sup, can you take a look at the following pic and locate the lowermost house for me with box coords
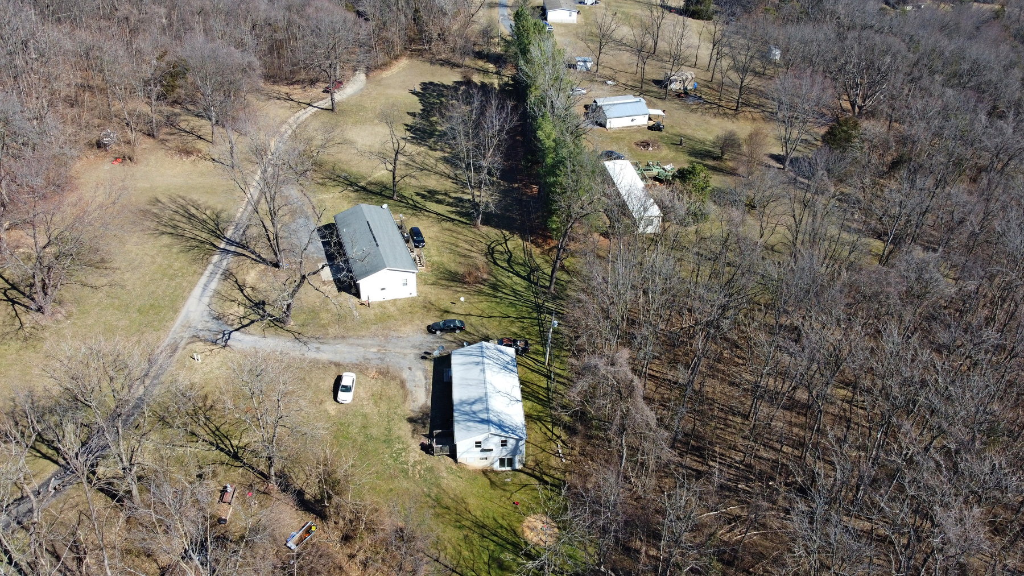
[452,343,528,467]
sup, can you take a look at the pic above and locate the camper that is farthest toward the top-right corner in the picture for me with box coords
[670,74,694,90]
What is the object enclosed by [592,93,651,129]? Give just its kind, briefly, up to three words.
barn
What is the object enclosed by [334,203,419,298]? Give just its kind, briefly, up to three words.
house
